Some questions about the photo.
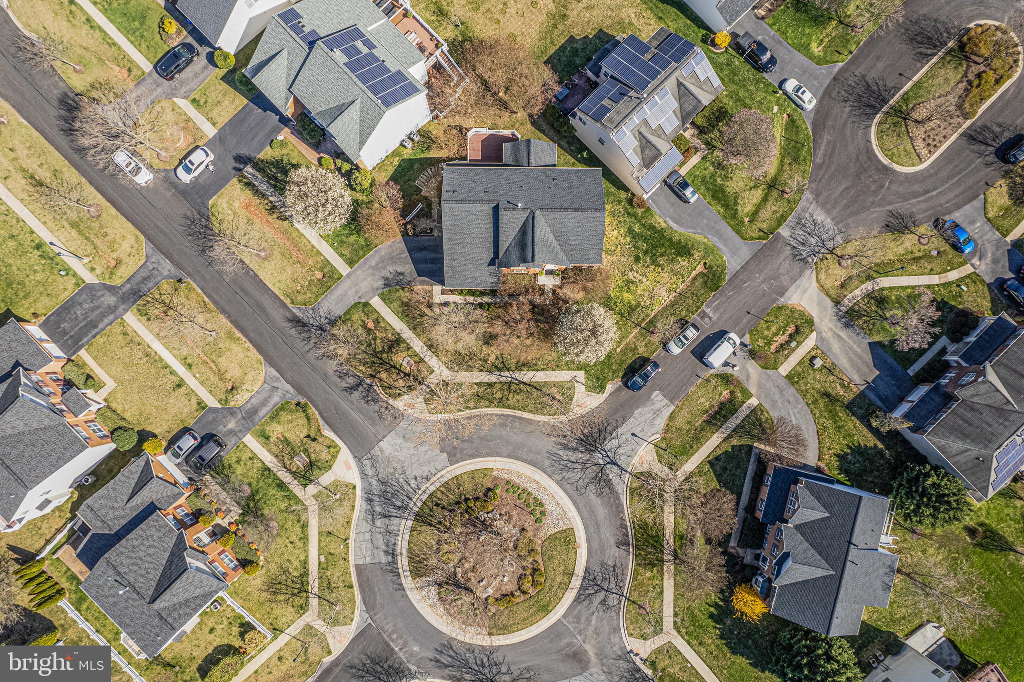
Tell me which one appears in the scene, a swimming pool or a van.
van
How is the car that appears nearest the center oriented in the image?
at an angle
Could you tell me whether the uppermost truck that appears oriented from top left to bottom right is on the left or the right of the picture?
right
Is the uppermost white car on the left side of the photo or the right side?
right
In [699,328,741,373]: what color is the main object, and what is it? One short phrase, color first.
white van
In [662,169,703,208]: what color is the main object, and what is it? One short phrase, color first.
gray car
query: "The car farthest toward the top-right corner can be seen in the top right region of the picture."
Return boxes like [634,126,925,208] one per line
[1001,139,1024,166]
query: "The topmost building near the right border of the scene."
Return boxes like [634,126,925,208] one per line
[889,311,1024,503]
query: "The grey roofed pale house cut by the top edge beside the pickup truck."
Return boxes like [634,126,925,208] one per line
[684,0,757,34]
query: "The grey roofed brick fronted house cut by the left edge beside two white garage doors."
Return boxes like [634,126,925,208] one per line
[0,318,113,538]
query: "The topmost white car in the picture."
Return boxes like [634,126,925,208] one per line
[777,76,820,115]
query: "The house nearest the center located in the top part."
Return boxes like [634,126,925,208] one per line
[440,139,606,290]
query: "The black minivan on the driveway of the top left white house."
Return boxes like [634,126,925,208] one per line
[150,43,201,82]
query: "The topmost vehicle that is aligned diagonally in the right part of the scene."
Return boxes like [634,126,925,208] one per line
[731,26,778,77]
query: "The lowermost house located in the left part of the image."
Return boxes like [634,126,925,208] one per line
[77,452,244,661]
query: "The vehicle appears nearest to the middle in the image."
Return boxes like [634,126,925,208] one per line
[625,356,666,396]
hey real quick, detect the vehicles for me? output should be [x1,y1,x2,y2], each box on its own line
[997,275,1024,316]
[189,435,227,473]
[662,169,703,208]
[699,328,741,373]
[110,149,155,187]
[625,356,666,396]
[1001,139,1024,166]
[176,145,215,183]
[165,428,203,465]
[777,76,820,115]
[731,26,778,77]
[663,318,704,358]
[150,43,201,82]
